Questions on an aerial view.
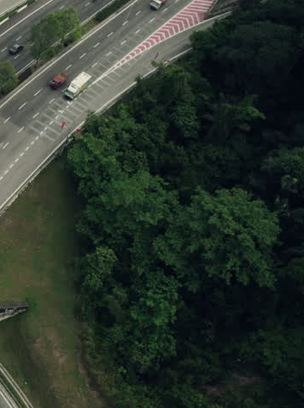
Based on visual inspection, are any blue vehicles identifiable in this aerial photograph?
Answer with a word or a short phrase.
No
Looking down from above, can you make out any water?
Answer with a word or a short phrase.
No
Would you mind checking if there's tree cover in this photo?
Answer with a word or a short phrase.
Yes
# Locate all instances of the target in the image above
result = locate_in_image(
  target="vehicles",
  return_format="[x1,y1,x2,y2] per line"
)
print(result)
[64,68,93,99]
[45,71,70,90]
[149,0,169,12]
[5,41,26,57]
